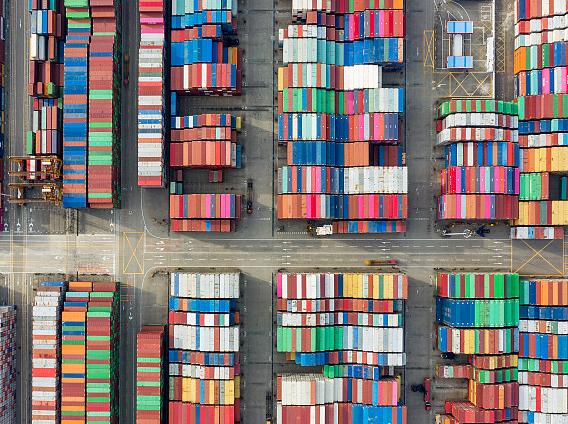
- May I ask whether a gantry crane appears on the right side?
No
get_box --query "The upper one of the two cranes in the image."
[2,155,64,181]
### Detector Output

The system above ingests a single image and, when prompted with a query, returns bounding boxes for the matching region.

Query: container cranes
[2,155,64,181]
[2,183,64,207]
